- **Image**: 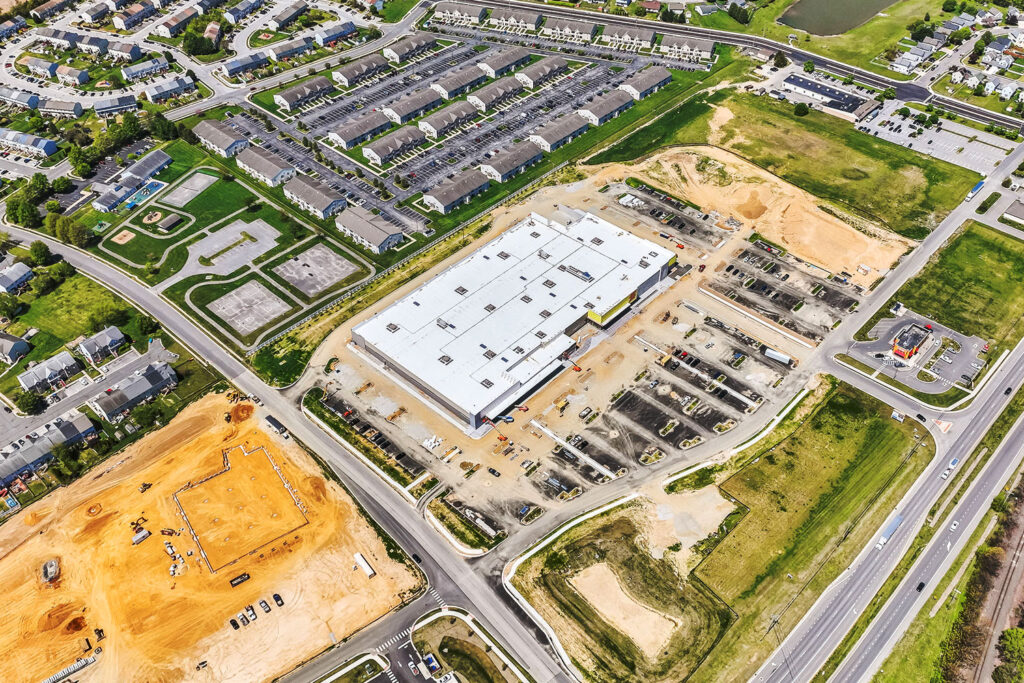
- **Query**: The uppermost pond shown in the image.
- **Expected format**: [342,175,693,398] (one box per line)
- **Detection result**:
[780,0,897,33]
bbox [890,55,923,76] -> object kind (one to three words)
house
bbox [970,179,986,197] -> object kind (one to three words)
vehicle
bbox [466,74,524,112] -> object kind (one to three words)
building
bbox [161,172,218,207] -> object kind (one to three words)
sports court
